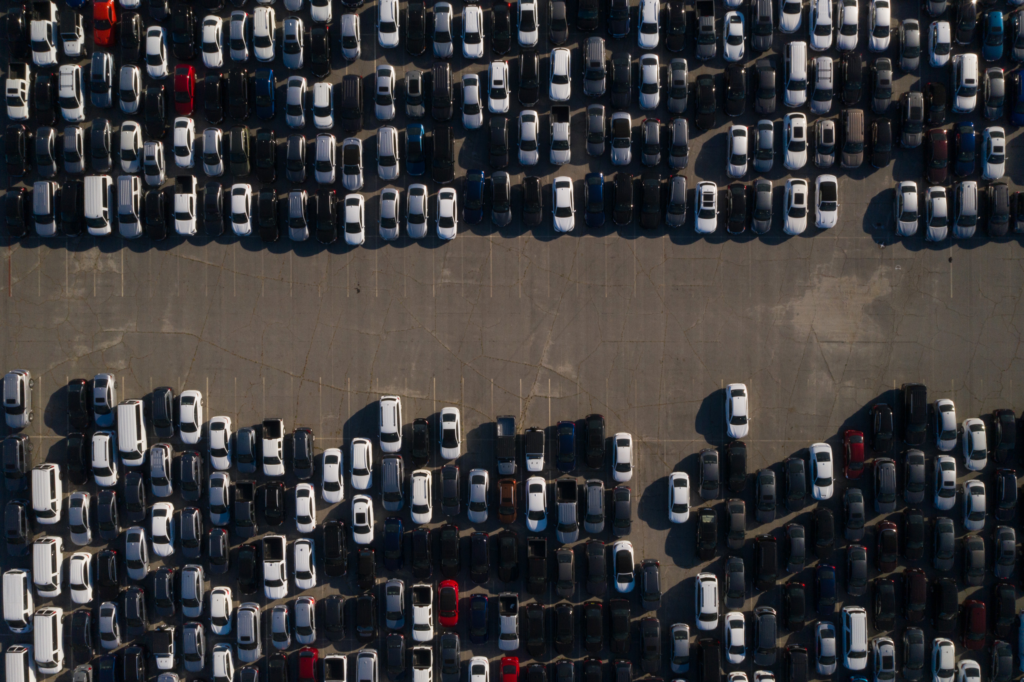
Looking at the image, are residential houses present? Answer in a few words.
No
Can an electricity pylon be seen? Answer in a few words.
No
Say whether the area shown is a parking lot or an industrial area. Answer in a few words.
parking lot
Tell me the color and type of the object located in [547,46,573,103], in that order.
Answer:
white car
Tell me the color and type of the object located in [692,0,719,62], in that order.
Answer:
black truck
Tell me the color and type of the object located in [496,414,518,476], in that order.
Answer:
black truck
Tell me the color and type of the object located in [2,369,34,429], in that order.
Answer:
gray car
